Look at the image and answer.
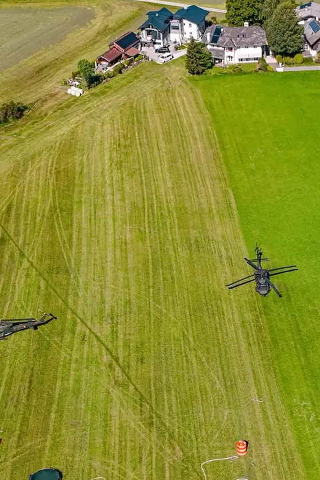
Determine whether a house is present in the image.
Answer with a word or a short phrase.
Yes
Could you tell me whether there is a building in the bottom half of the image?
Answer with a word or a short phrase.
No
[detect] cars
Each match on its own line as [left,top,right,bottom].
[155,48,170,55]
[159,52,173,61]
